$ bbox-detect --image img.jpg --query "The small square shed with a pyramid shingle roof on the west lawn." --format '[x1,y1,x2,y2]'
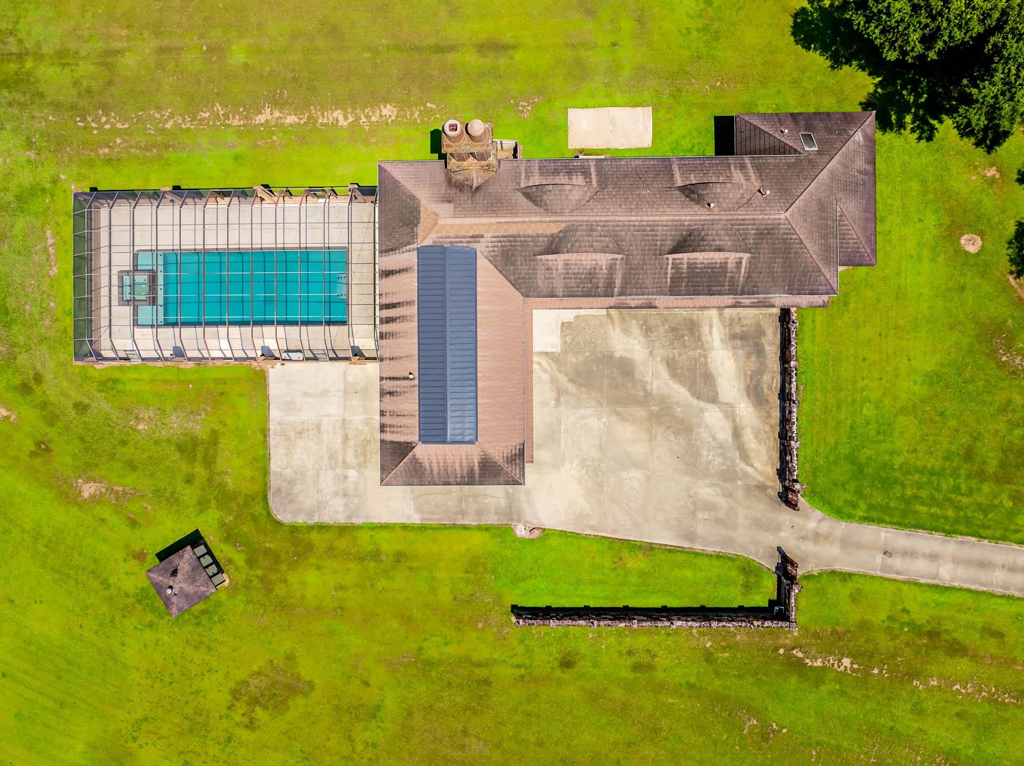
[146,542,226,617]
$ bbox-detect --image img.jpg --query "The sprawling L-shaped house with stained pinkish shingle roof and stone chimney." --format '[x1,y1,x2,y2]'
[377,111,877,486]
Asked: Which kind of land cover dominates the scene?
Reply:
grass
